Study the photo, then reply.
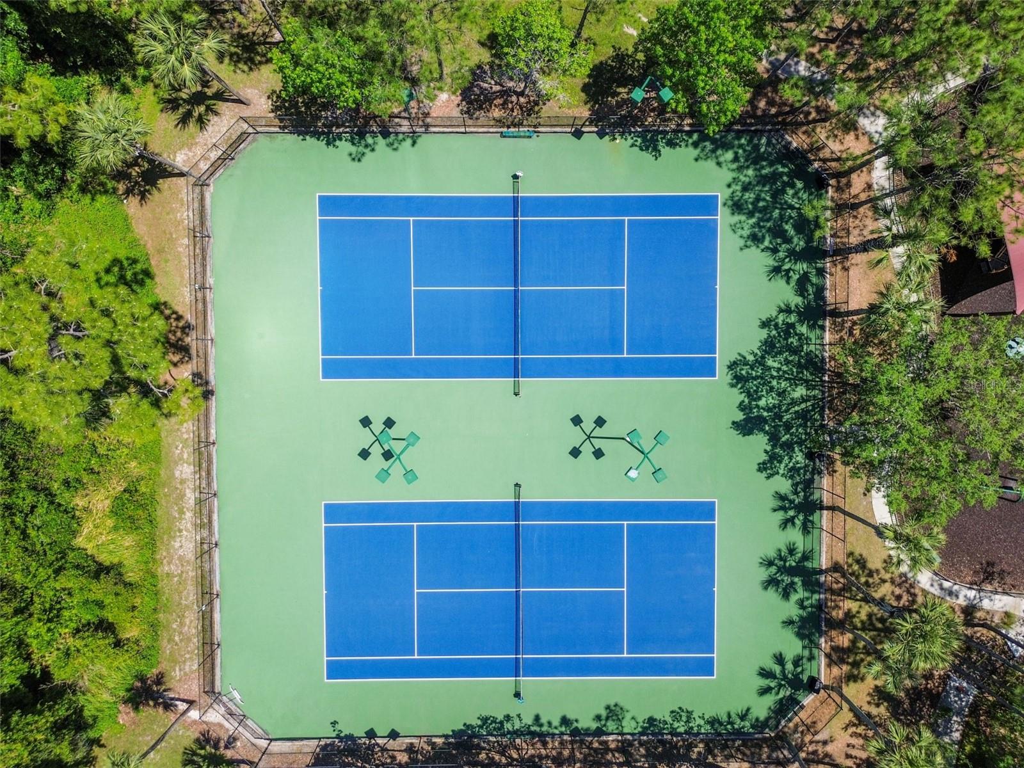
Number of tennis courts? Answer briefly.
two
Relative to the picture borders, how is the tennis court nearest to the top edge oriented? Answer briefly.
from side to side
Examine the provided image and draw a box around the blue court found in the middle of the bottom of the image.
[322,500,717,682]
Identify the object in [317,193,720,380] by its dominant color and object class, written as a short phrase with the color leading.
blue tennis court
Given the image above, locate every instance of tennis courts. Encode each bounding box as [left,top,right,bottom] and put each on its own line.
[317,193,720,380]
[322,500,717,682]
